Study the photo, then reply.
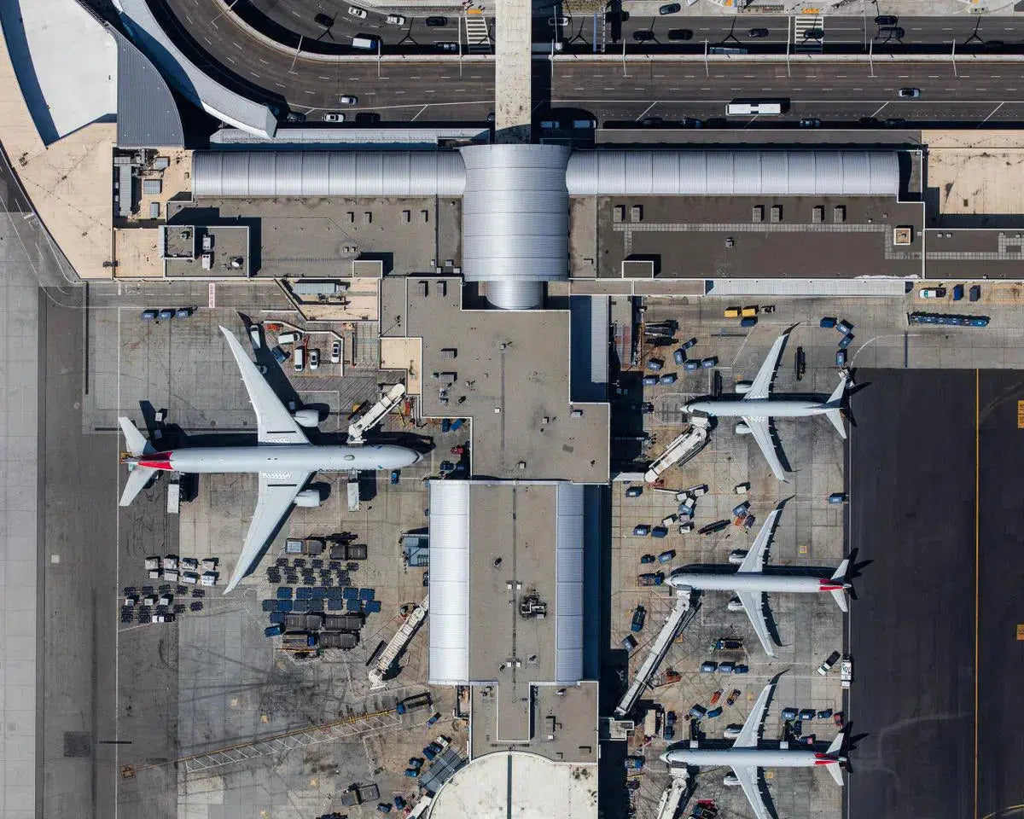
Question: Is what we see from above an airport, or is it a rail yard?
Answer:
airport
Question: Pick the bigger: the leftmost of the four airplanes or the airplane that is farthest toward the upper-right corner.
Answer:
the leftmost of the four airplanes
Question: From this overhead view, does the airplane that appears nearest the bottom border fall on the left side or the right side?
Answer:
right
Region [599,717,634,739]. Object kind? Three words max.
building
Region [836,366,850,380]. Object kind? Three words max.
work vehicle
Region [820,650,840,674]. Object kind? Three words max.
vehicle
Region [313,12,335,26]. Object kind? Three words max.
car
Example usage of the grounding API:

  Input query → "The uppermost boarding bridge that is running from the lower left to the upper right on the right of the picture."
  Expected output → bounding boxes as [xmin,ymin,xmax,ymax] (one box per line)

[644,407,709,482]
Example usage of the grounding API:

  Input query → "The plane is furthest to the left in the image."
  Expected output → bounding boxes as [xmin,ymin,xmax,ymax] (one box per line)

[118,325,423,595]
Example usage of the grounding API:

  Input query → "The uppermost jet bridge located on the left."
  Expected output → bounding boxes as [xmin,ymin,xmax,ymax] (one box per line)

[346,382,407,447]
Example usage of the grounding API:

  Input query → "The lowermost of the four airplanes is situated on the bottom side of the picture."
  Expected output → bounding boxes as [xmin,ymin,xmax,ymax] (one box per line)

[659,683,846,819]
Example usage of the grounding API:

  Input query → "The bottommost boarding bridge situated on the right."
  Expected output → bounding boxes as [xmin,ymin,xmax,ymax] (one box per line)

[651,756,690,819]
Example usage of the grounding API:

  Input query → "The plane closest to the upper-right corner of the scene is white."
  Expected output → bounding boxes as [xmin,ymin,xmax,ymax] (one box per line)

[680,333,851,485]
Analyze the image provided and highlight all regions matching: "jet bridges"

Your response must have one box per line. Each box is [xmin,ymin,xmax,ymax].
[346,382,407,447]
[615,584,695,718]
[651,756,690,819]
[644,407,709,482]
[366,593,429,692]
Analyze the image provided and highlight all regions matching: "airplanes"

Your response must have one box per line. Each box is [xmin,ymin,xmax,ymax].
[680,333,851,485]
[118,325,423,595]
[659,683,846,819]
[664,509,851,660]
